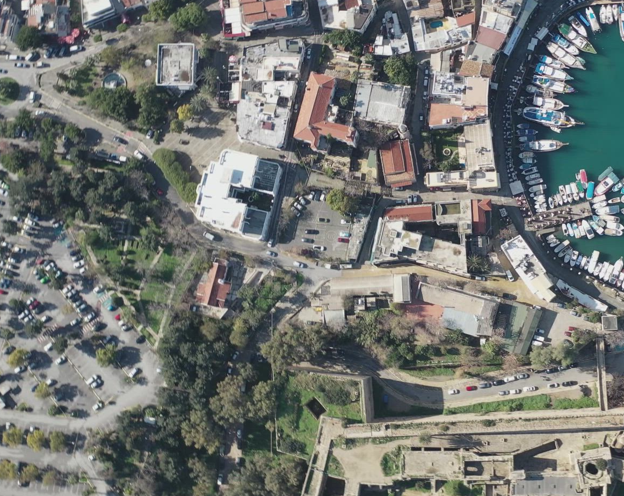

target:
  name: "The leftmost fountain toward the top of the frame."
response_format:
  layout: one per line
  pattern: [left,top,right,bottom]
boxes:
[102,69,126,93]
